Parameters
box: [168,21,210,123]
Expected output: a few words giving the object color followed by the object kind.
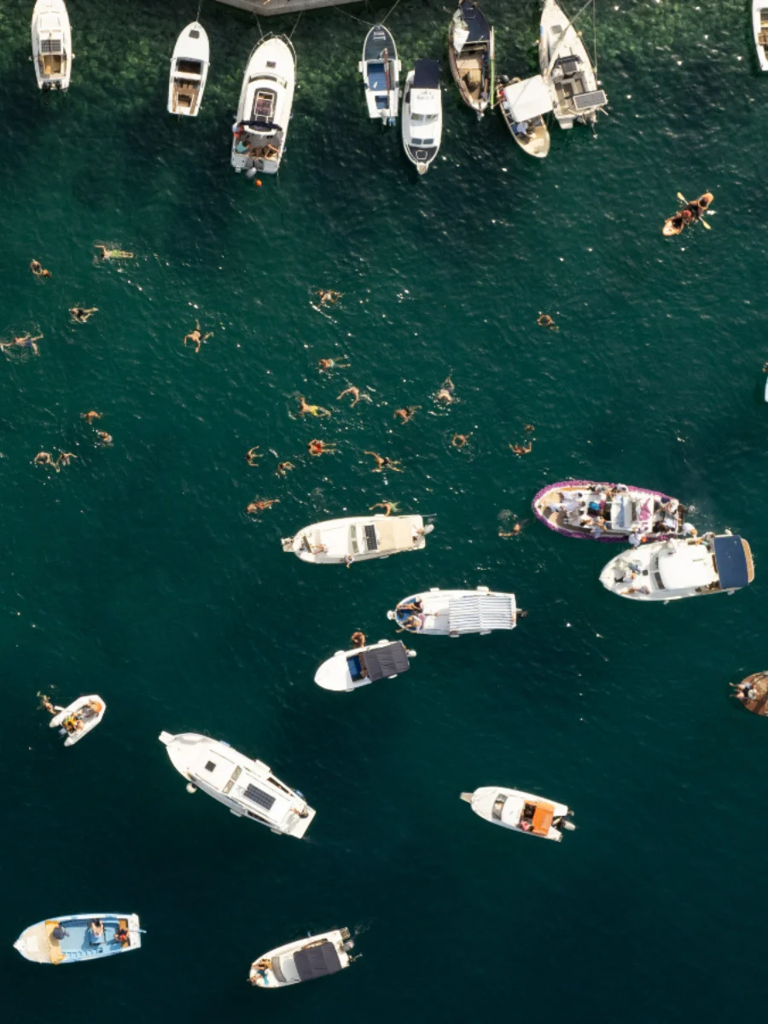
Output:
white boat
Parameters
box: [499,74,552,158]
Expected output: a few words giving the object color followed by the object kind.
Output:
white boat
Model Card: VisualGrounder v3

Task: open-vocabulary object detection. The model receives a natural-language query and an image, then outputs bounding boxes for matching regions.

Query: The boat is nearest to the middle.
[282,513,436,561]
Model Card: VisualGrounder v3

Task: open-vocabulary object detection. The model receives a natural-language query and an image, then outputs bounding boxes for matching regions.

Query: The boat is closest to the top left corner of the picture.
[30,0,73,96]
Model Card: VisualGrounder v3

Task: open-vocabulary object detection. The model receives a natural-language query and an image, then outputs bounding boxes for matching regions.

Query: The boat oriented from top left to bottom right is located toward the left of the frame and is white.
[159,731,318,839]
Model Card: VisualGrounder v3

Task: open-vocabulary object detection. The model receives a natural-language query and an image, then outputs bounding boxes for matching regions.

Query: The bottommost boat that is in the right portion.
[460,787,575,841]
